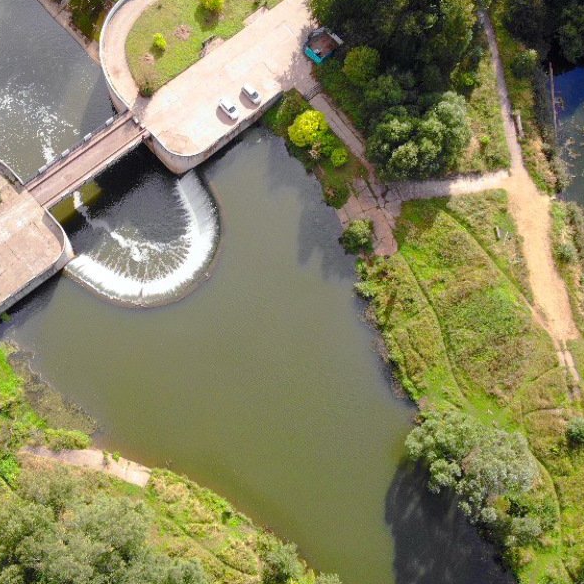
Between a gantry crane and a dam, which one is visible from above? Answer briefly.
dam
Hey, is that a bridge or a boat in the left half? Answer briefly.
bridge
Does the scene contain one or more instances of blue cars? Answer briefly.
No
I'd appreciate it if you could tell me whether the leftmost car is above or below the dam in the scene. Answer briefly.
above it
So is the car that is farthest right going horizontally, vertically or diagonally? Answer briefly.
diagonally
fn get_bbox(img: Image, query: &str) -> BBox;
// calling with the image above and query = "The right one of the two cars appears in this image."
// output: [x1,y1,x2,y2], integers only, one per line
[238,83,263,106]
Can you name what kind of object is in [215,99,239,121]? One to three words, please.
car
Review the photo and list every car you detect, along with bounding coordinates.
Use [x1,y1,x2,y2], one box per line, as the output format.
[238,83,263,106]
[215,99,239,121]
